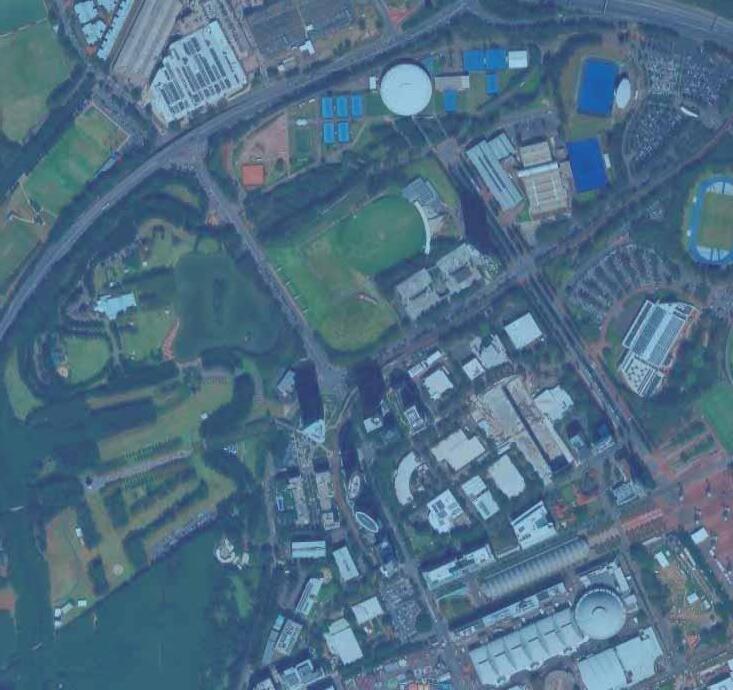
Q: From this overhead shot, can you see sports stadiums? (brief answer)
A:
Yes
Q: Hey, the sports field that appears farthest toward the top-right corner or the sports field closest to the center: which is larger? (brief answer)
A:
the sports field closest to the center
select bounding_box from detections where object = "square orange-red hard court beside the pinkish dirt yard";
[243,165,265,187]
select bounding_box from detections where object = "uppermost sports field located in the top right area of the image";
[577,56,621,117]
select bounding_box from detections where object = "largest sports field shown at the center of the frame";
[264,196,428,352]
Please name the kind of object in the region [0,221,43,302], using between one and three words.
sports field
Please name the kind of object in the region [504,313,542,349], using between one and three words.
building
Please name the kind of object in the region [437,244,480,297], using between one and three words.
building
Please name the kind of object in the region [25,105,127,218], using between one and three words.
sports field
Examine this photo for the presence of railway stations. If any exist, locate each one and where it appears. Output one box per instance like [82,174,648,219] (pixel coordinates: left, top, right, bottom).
[467,527,593,602]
